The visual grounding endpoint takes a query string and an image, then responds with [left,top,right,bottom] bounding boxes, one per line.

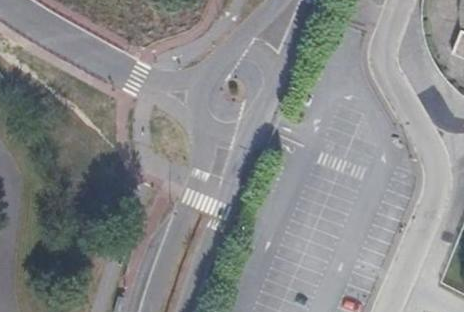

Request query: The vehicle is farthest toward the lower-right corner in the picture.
[342,298,363,312]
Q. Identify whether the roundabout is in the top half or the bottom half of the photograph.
top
